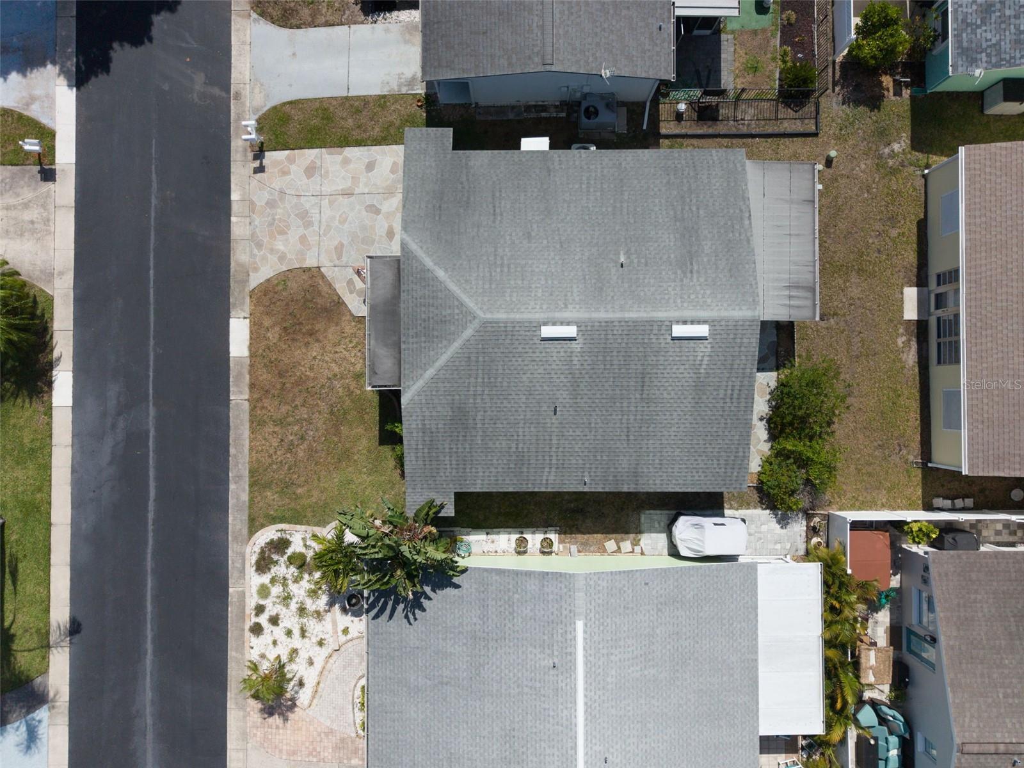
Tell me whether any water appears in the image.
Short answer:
No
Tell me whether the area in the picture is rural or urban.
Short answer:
urban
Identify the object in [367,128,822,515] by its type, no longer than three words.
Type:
house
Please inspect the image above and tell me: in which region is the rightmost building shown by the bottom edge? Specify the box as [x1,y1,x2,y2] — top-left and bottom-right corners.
[900,542,1024,768]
